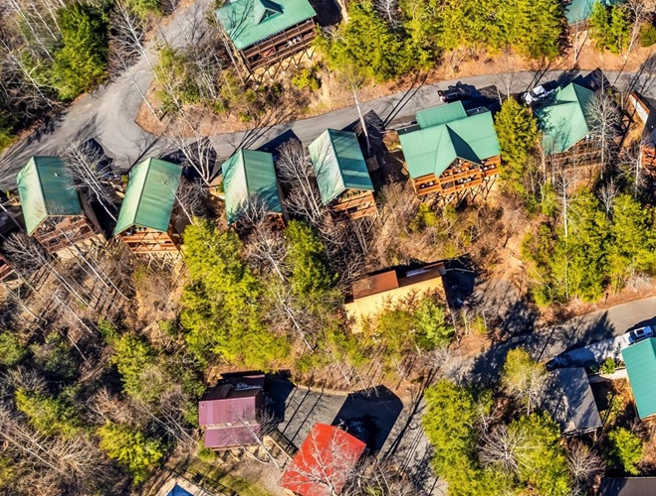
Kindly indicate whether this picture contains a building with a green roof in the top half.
Yes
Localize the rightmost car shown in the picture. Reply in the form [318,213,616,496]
[621,318,656,343]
